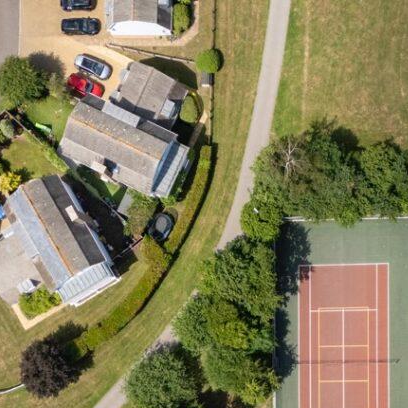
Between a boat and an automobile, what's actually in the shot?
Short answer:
automobile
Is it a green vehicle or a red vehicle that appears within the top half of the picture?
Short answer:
red vehicle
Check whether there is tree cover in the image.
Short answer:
Yes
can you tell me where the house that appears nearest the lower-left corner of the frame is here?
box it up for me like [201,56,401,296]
[0,173,123,310]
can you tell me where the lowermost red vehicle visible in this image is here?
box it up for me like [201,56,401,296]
[66,73,103,100]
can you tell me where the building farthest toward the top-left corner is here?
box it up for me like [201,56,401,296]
[106,0,172,37]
